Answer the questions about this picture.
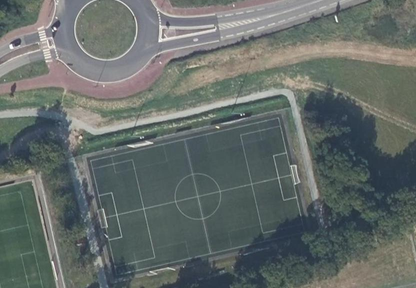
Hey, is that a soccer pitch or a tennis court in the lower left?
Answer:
soccer pitch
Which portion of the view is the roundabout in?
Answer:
top left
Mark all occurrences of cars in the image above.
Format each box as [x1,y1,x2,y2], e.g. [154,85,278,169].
[8,40,20,48]
[52,20,60,30]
